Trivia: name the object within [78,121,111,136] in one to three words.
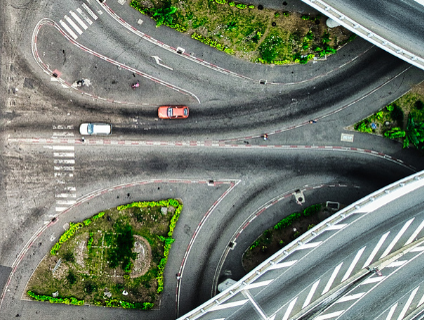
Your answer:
vehicle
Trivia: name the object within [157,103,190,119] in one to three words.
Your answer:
car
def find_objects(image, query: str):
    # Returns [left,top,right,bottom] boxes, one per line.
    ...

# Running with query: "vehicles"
[157,103,190,119]
[78,121,111,136]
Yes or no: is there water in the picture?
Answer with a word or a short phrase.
No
